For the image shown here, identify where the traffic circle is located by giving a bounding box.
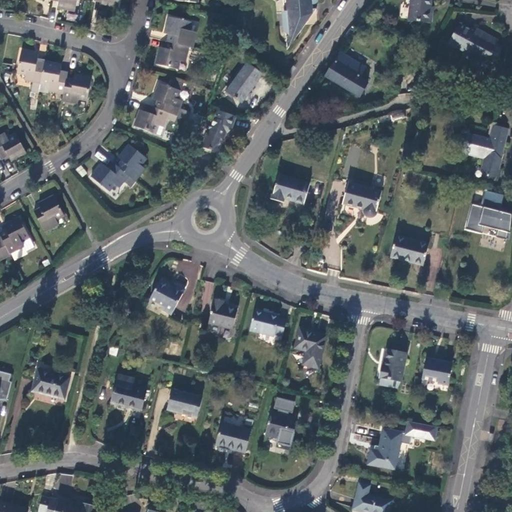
[178,192,235,248]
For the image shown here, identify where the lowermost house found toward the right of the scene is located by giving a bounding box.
[352,480,390,512]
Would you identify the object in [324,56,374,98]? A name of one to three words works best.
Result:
house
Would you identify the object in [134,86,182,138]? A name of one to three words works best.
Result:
house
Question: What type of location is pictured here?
residential area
